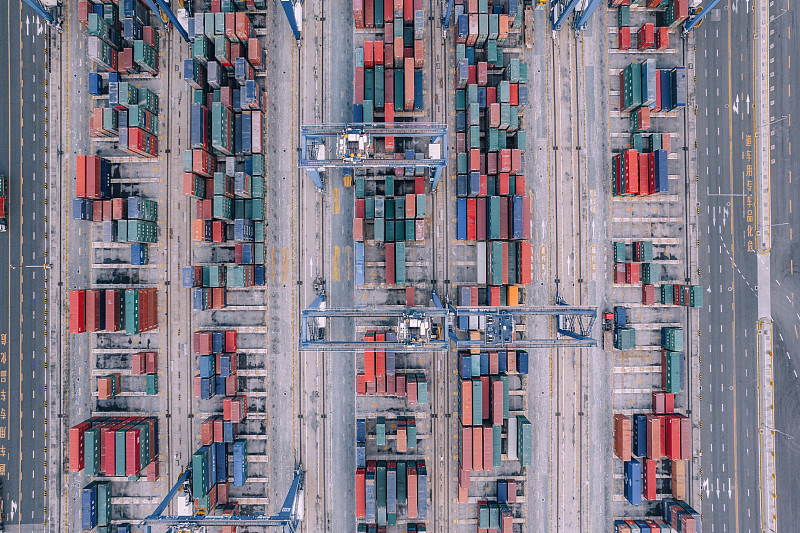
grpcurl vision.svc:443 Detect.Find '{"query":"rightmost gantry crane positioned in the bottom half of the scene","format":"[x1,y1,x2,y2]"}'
[445,291,597,352]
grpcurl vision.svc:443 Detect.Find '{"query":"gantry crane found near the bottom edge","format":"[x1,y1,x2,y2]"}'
[143,463,305,533]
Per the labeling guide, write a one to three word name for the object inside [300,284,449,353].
container crane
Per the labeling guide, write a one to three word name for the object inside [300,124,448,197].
container crane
